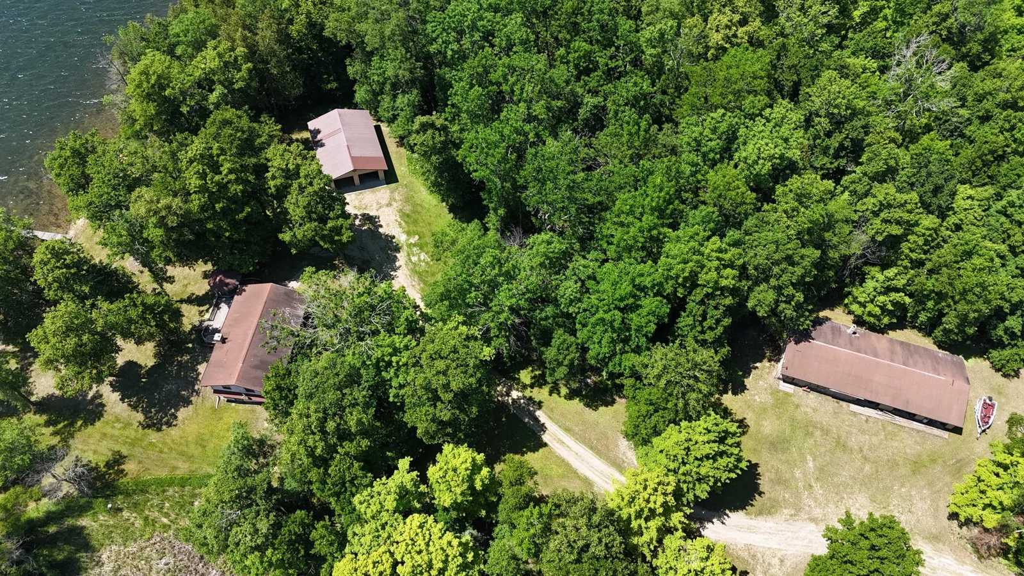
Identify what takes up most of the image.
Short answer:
trees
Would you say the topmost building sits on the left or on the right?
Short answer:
left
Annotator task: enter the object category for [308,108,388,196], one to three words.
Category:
building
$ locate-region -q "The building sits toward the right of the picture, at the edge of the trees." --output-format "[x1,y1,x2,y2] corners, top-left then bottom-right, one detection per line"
[780,315,970,429]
